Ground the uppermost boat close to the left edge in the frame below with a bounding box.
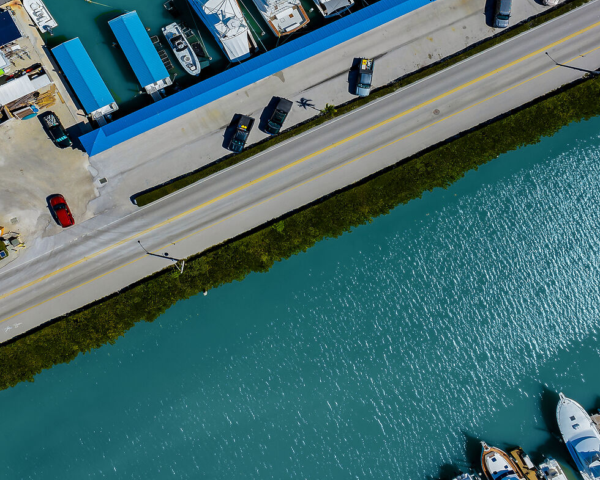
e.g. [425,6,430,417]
[23,0,60,36]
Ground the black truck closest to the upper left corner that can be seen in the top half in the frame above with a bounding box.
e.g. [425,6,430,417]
[44,112,72,148]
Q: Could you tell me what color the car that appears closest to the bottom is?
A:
red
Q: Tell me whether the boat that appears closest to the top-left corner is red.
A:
No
